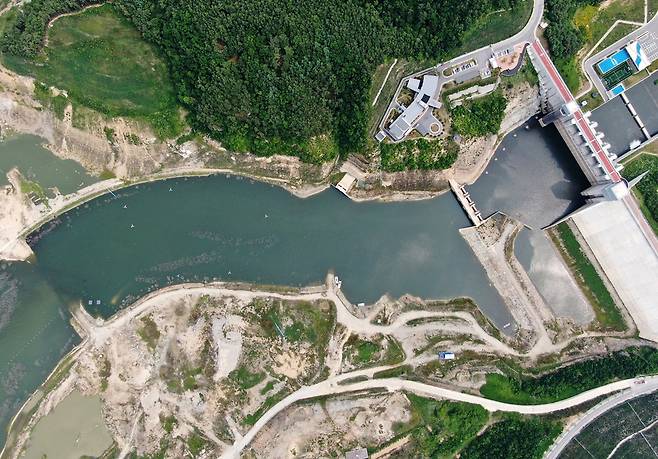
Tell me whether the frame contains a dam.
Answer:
Yes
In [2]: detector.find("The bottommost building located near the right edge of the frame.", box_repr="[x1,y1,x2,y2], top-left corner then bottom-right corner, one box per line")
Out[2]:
[601,178,630,202]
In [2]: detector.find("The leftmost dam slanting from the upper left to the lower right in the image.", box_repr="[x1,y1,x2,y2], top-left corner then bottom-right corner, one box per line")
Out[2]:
[449,178,484,228]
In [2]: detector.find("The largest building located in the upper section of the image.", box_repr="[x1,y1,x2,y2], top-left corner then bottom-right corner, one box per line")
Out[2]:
[384,75,442,143]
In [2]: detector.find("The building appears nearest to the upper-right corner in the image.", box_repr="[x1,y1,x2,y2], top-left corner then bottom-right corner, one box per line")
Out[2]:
[622,40,652,73]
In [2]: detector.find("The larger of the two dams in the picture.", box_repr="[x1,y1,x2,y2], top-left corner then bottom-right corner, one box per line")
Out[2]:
[528,37,623,190]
